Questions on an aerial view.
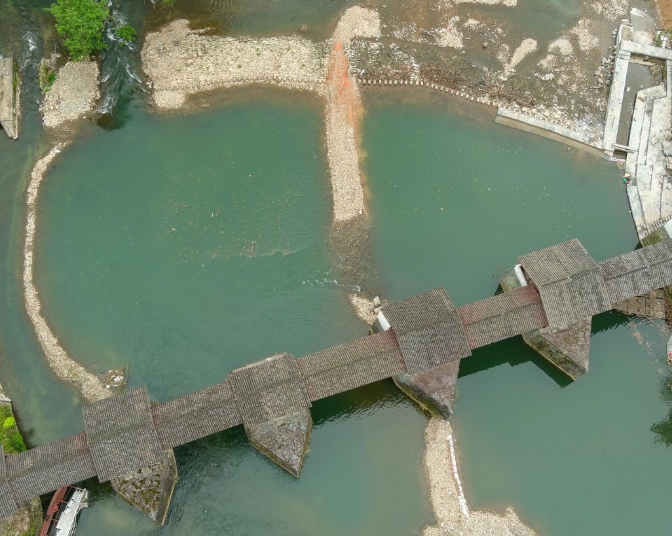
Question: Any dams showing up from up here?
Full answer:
Yes, there's a dam down there.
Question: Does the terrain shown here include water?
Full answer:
Yes, some water is visible.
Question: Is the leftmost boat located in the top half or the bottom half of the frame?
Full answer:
The leftmost boat is in the bottom half of the image.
